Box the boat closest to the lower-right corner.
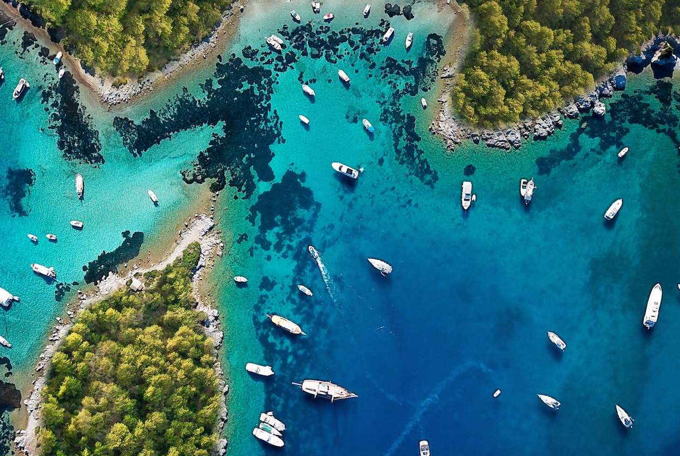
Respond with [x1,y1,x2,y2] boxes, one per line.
[617,406,633,428]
